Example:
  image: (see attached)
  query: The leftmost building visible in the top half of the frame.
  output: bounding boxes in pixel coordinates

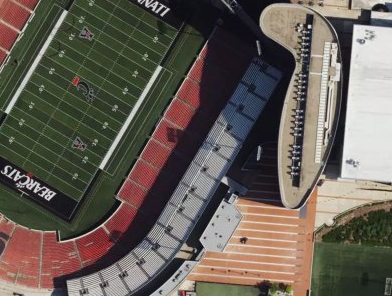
[259,4,343,209]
